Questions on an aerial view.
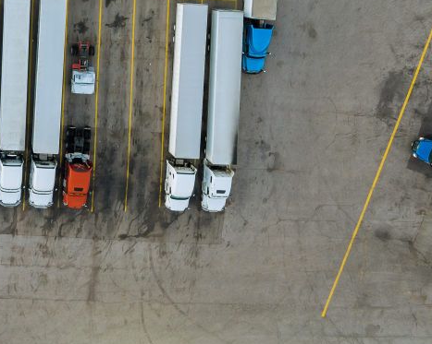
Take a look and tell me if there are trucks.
Yes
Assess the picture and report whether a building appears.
No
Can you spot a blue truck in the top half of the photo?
Yes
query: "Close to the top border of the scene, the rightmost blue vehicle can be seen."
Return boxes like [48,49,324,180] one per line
[241,0,274,73]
